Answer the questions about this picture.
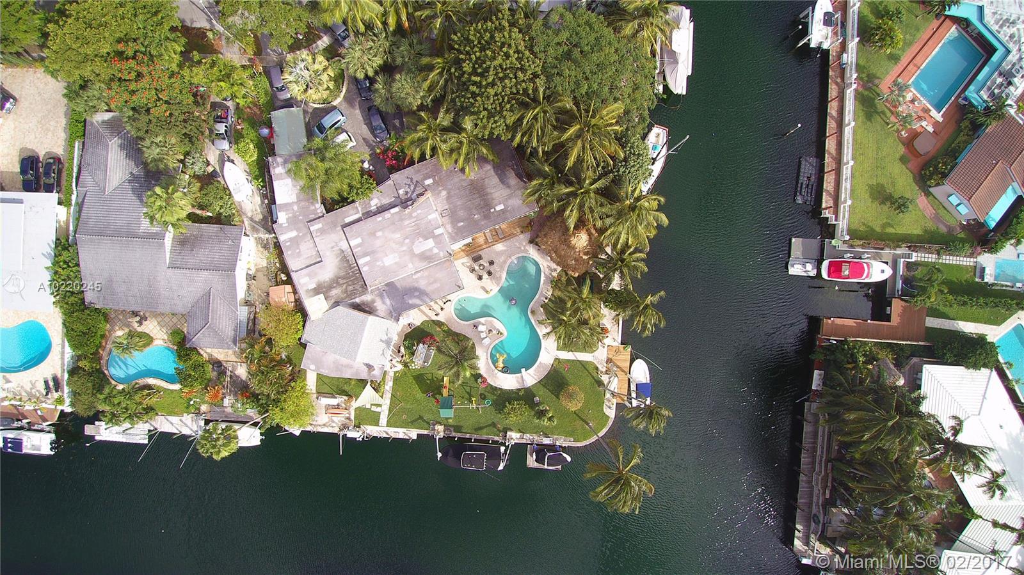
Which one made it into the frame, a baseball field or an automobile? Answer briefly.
automobile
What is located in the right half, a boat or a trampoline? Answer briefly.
boat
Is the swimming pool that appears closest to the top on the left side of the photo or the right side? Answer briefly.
right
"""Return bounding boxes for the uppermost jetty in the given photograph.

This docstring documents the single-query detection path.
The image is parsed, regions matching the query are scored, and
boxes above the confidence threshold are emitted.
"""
[796,157,821,204]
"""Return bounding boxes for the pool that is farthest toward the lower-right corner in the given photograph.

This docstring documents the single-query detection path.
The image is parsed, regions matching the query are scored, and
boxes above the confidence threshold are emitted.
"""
[994,319,1024,399]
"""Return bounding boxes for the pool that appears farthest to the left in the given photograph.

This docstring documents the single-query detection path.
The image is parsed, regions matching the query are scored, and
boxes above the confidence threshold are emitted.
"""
[0,318,54,376]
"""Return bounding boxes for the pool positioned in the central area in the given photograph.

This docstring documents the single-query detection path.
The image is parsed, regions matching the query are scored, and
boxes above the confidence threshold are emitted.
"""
[450,252,545,377]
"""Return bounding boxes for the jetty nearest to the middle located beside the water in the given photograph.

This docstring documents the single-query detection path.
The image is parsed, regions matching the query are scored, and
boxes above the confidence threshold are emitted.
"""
[607,346,630,402]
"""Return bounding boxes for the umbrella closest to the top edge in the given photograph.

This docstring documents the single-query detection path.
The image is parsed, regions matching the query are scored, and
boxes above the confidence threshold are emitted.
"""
[257,125,271,138]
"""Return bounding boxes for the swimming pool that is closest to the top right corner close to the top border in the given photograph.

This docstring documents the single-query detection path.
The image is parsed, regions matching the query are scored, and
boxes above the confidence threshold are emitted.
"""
[908,22,988,116]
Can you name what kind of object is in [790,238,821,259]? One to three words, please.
pier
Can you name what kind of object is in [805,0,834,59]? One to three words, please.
boat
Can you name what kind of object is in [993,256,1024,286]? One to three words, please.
swimming pool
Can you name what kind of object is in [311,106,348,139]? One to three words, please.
car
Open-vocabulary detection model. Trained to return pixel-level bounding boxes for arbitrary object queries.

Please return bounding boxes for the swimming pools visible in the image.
[104,342,183,387]
[0,318,54,376]
[908,22,988,116]
[994,319,1024,399]
[450,252,545,377]
[993,256,1024,286]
